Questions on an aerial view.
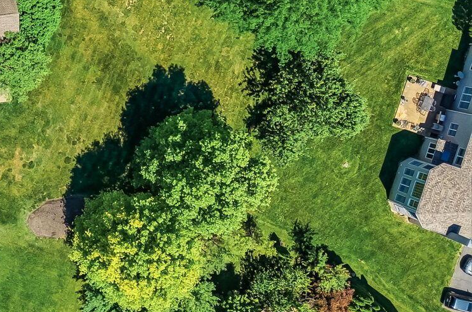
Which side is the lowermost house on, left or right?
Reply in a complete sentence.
The lowermost house is on the right side of the image.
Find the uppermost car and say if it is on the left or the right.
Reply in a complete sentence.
The uppermost car sits on the right side.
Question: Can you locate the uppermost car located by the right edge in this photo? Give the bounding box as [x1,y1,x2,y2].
[449,248,472,271]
